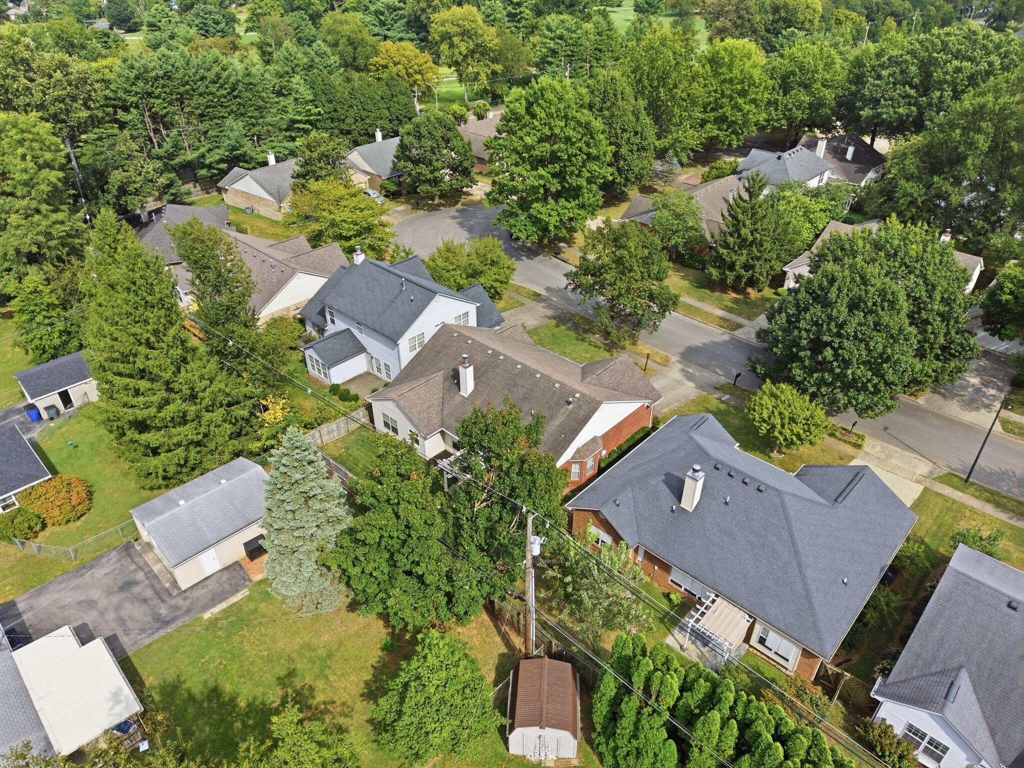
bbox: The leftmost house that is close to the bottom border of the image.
[0,555,161,768]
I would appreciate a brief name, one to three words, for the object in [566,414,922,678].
house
